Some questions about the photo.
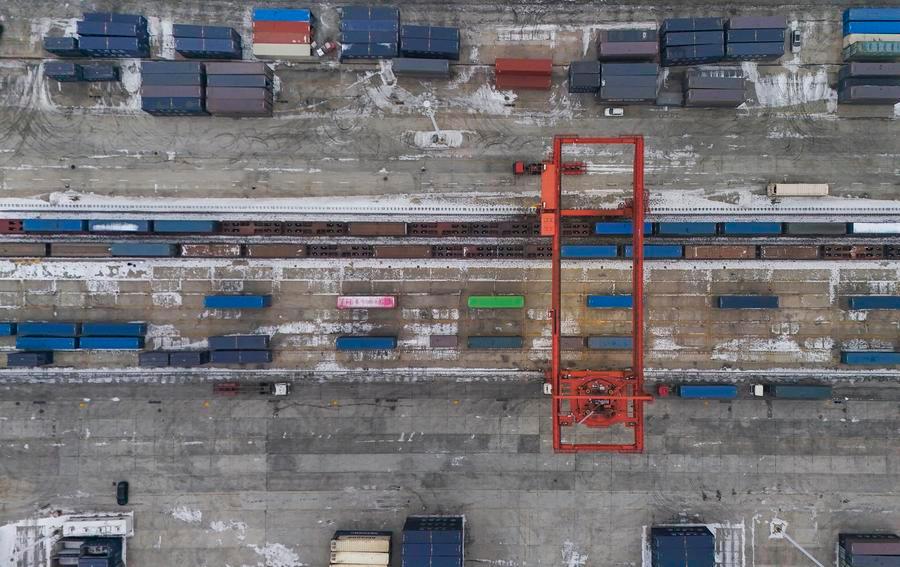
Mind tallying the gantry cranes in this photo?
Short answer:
1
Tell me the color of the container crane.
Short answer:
red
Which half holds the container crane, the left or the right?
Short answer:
right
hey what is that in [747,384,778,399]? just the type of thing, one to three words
vehicle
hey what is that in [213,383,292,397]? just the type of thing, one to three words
vehicle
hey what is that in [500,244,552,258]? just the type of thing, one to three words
rail car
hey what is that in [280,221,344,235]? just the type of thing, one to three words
rail car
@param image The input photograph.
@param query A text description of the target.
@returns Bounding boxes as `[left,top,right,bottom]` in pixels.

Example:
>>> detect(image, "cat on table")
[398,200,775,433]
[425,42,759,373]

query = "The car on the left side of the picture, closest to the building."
[117,482,129,505]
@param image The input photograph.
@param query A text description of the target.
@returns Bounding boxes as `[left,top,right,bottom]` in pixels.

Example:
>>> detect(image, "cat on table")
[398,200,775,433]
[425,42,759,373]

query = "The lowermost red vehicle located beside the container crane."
[656,383,687,398]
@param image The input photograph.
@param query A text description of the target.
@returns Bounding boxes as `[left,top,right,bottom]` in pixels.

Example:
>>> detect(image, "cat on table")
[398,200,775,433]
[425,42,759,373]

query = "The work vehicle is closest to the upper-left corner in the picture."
[317,39,340,57]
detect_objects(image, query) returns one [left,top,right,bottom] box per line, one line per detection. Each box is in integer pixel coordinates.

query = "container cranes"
[528,133,654,455]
